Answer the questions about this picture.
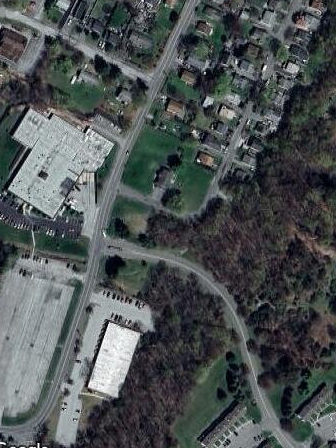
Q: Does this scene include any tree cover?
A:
Yes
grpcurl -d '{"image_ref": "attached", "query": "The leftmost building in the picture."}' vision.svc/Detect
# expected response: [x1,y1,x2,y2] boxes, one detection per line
[0,27,30,61]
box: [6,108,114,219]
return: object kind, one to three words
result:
building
